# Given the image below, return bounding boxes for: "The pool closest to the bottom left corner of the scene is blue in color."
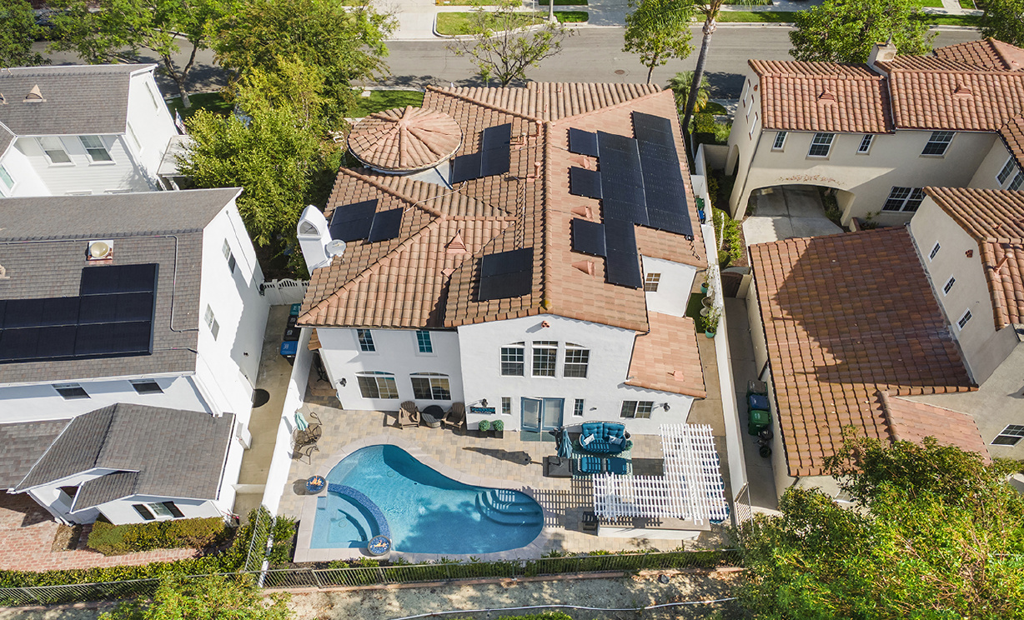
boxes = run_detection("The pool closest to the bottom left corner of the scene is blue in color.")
[310,443,543,552]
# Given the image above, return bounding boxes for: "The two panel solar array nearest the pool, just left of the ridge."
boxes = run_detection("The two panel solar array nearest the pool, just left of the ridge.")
[476,245,532,304]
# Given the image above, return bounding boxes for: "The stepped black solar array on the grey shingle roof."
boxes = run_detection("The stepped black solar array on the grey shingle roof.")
[0,263,161,371]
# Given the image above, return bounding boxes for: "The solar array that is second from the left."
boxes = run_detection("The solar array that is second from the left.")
[329,194,406,242]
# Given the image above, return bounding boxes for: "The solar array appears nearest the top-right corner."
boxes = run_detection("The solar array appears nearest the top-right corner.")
[571,109,695,290]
